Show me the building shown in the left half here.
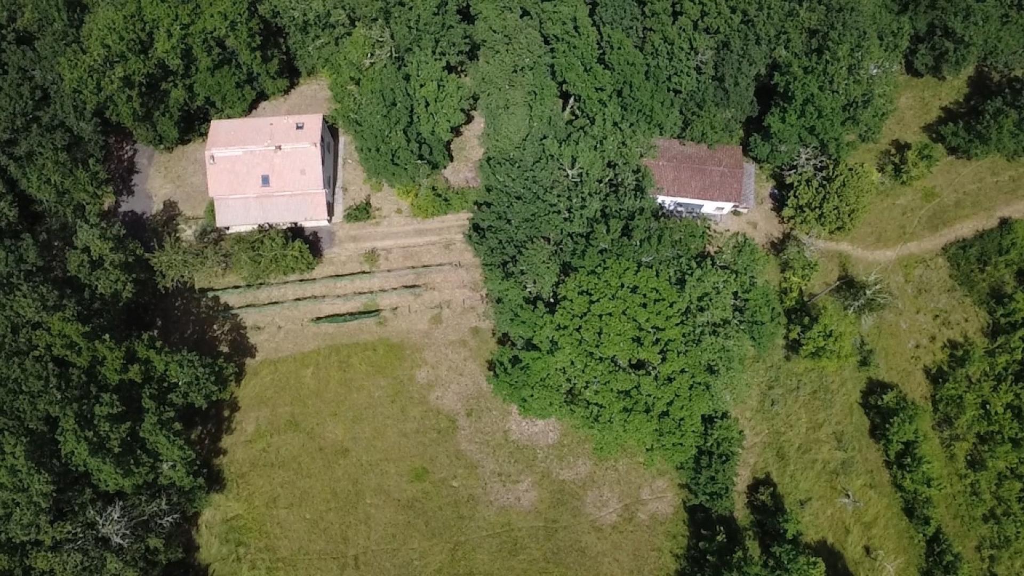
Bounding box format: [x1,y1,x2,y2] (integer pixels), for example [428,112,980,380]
[203,113,333,231]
